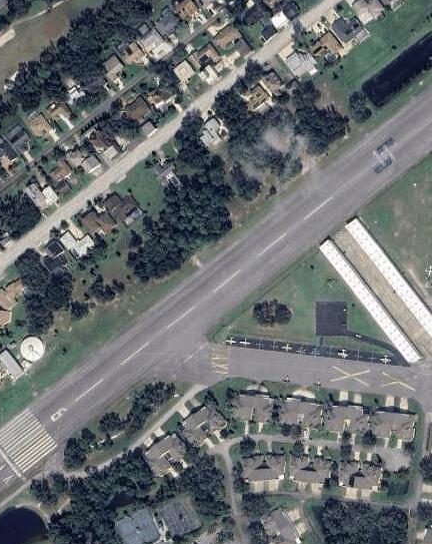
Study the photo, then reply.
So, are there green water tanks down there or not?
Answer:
No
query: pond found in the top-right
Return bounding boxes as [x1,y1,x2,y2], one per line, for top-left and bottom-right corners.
[363,32,432,108]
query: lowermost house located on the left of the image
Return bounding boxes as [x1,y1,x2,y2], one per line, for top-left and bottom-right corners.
[146,437,190,478]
